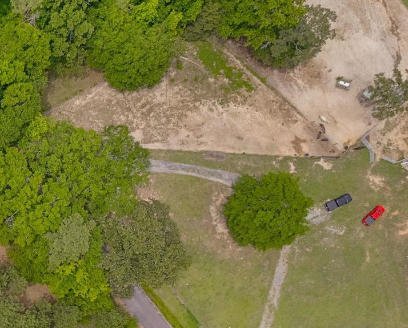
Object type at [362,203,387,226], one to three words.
truck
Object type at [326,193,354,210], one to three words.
vehicle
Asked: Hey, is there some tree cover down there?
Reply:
Yes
